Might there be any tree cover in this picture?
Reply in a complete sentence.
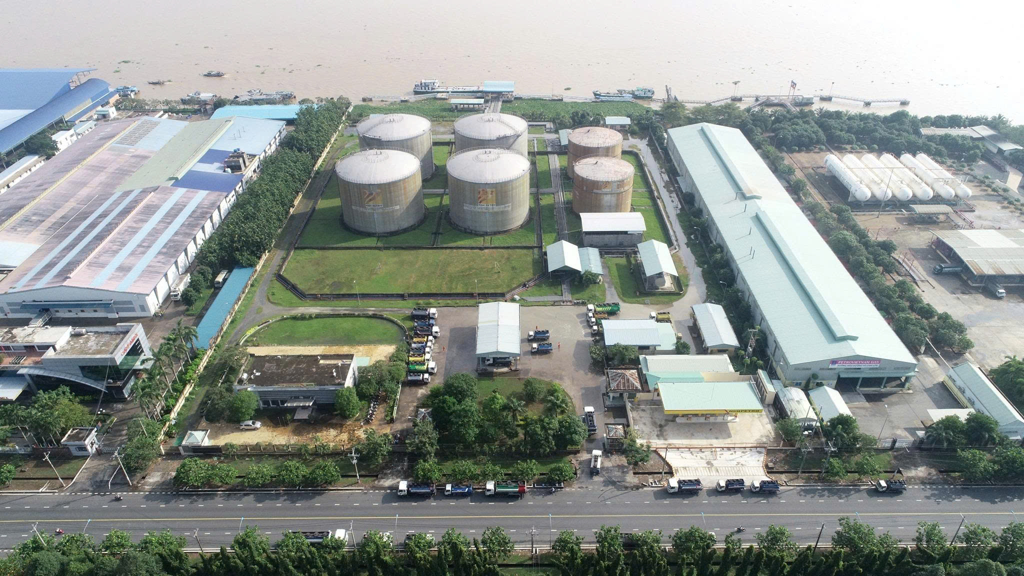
Yes, some tree cover is visible.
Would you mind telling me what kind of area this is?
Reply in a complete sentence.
What you see here is an industrial area.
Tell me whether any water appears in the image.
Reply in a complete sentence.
Yes, some water is visible.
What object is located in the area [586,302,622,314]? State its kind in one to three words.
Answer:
vehicle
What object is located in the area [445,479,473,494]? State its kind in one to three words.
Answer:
vehicle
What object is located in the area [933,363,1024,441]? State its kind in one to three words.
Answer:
building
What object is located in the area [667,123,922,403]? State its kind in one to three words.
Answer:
warehouse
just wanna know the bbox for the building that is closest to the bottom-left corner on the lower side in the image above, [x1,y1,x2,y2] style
[60,427,98,455]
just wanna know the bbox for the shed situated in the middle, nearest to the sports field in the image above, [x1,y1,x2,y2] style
[546,242,582,283]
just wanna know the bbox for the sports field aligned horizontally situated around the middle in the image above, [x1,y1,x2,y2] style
[285,249,542,295]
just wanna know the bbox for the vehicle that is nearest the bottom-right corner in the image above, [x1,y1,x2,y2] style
[875,477,910,492]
